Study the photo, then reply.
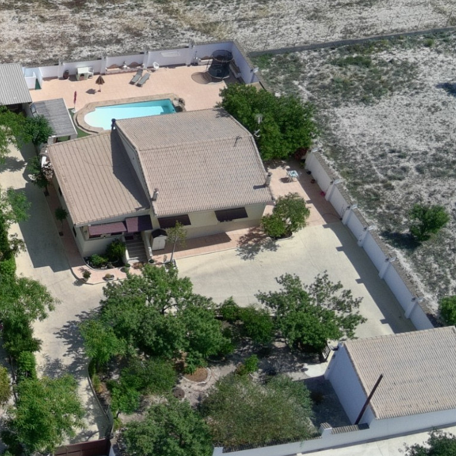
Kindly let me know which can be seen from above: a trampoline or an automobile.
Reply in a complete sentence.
Looking from above, you can make out a trampoline.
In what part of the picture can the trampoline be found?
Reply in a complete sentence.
The trampoline is in the top part of the image.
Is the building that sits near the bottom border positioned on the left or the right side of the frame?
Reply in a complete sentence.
It is on the right.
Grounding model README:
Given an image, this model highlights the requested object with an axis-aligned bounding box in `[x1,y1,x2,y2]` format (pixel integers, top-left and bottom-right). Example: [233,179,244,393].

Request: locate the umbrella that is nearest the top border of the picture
[93,73,108,94]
